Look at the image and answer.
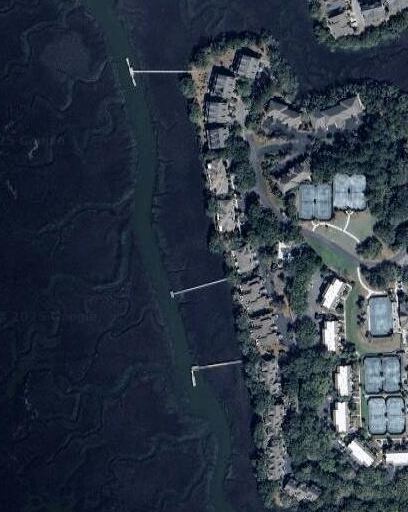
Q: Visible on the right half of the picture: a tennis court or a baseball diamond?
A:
tennis court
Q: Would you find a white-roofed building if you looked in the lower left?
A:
No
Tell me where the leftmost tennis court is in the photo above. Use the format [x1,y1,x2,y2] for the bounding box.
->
[299,183,315,221]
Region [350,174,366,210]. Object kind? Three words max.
tennis court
